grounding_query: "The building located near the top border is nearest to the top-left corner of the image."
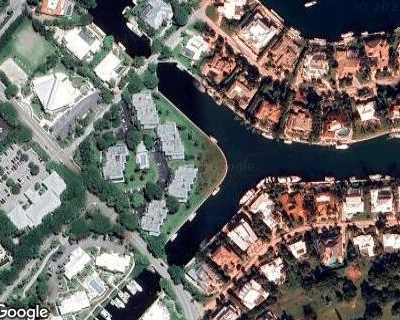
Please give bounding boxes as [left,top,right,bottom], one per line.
[42,0,70,23]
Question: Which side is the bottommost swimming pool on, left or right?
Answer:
left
